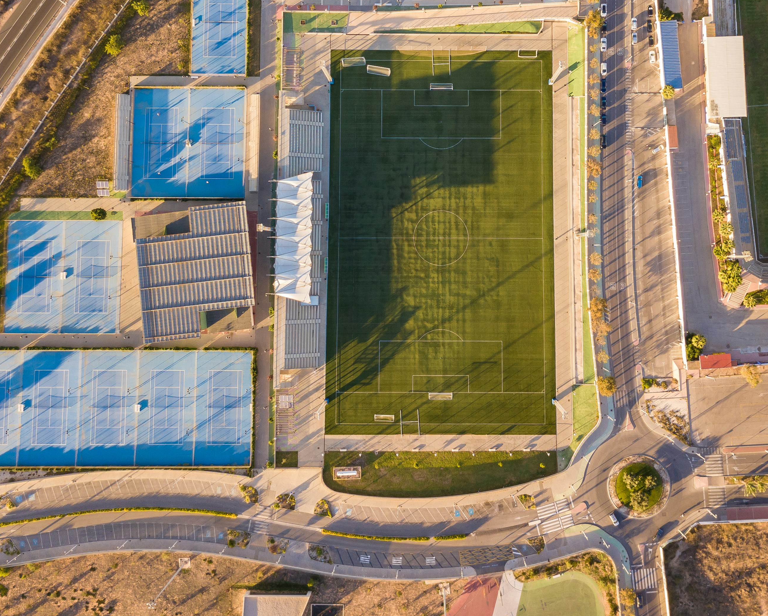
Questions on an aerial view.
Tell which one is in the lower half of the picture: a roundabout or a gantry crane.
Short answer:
roundabout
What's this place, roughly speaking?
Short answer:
sports ground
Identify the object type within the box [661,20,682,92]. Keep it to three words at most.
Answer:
shed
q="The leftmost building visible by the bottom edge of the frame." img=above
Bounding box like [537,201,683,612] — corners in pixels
[244,587,312,616]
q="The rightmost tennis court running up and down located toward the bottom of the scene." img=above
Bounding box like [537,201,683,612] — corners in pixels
[194,352,252,466]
